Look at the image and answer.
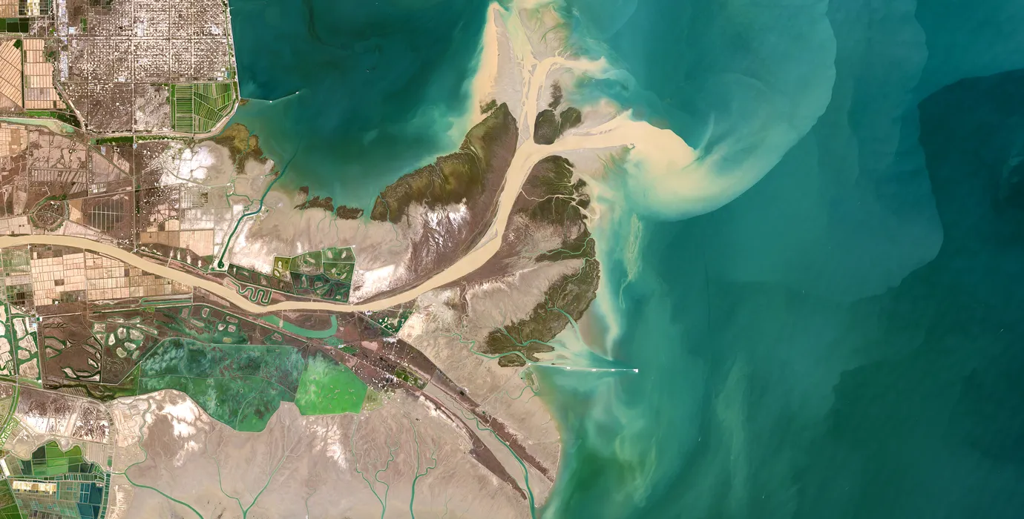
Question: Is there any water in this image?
Yes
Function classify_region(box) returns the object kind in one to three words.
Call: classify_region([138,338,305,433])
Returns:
pond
